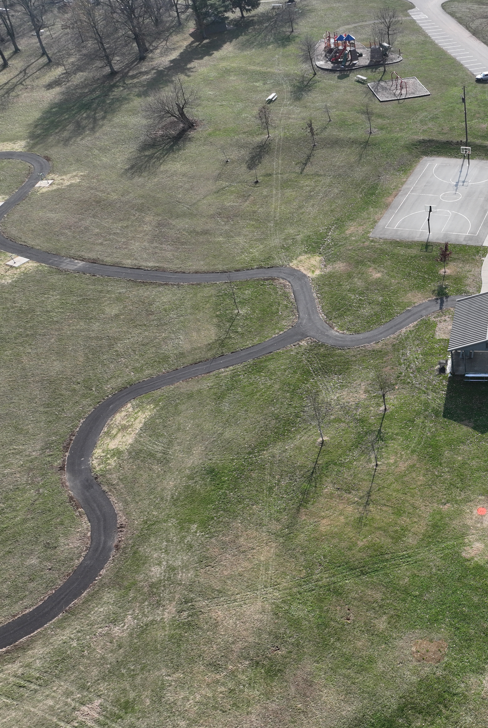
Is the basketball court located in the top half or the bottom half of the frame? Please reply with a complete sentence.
The top half of the photo is where the basketball court is.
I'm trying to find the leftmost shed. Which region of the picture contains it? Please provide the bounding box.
[190,18,228,39]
